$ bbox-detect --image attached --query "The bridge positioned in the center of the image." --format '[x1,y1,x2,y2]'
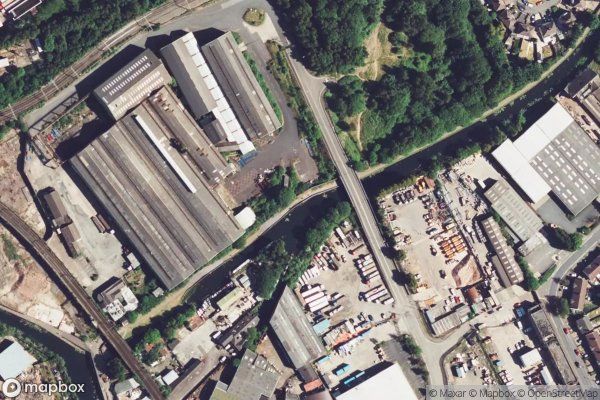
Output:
[316,117,395,278]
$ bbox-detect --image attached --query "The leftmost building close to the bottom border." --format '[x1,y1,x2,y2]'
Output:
[0,341,36,382]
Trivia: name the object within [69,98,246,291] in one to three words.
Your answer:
shed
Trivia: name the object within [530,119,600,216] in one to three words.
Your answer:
building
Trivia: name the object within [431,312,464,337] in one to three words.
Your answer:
shed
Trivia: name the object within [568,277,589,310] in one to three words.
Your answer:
house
